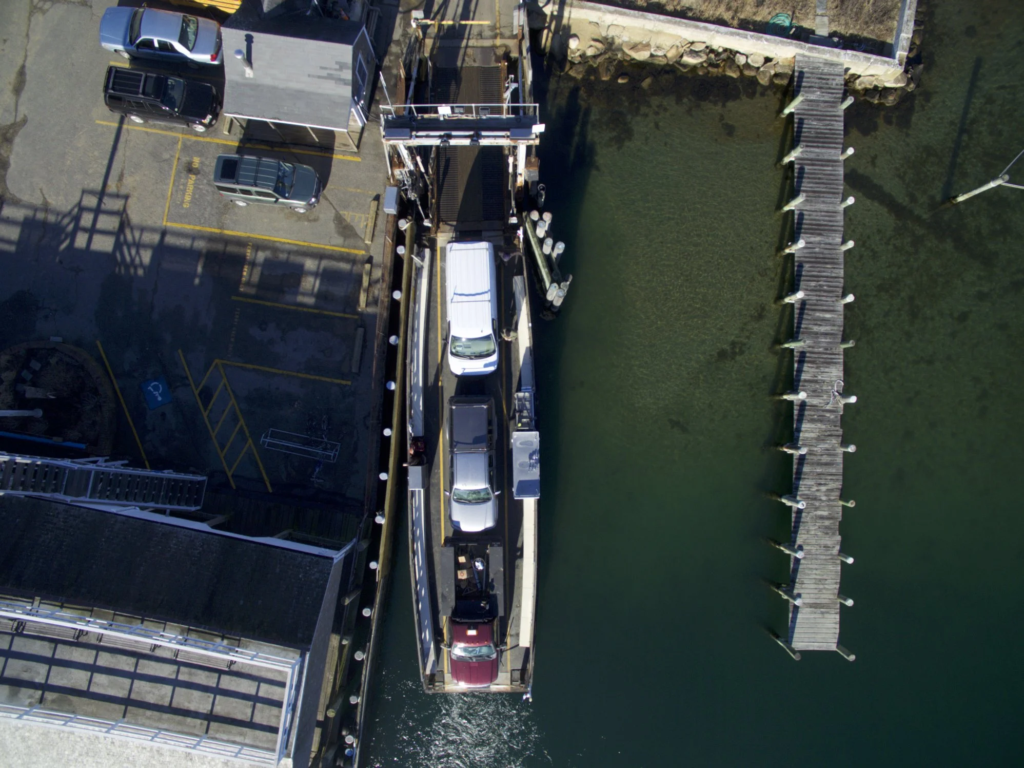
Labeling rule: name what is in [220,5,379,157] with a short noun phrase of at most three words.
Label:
shed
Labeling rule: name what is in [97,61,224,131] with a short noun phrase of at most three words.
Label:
car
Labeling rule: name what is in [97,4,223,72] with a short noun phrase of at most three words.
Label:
car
